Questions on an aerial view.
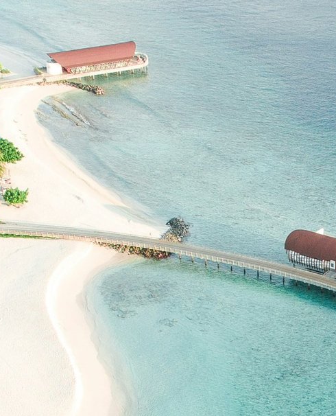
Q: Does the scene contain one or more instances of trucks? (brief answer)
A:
No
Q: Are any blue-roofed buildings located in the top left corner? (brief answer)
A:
No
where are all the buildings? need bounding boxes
[287,229,336,280]
[32,36,150,86]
